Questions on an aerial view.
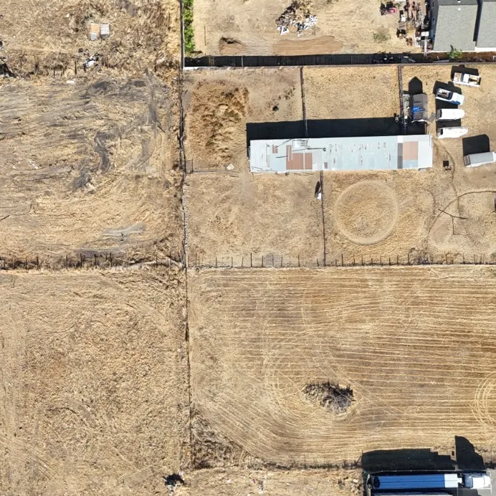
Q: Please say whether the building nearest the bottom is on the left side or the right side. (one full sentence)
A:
You can find the building nearest the bottom on the right side of the picture.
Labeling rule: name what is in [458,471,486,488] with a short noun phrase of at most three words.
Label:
vehicle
